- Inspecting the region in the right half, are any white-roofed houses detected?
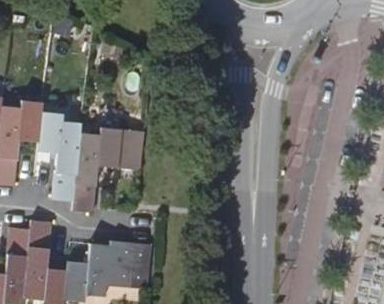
No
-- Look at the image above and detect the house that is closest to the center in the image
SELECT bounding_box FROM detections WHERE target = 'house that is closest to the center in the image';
[119,129,144,170]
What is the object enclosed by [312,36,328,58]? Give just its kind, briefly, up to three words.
car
